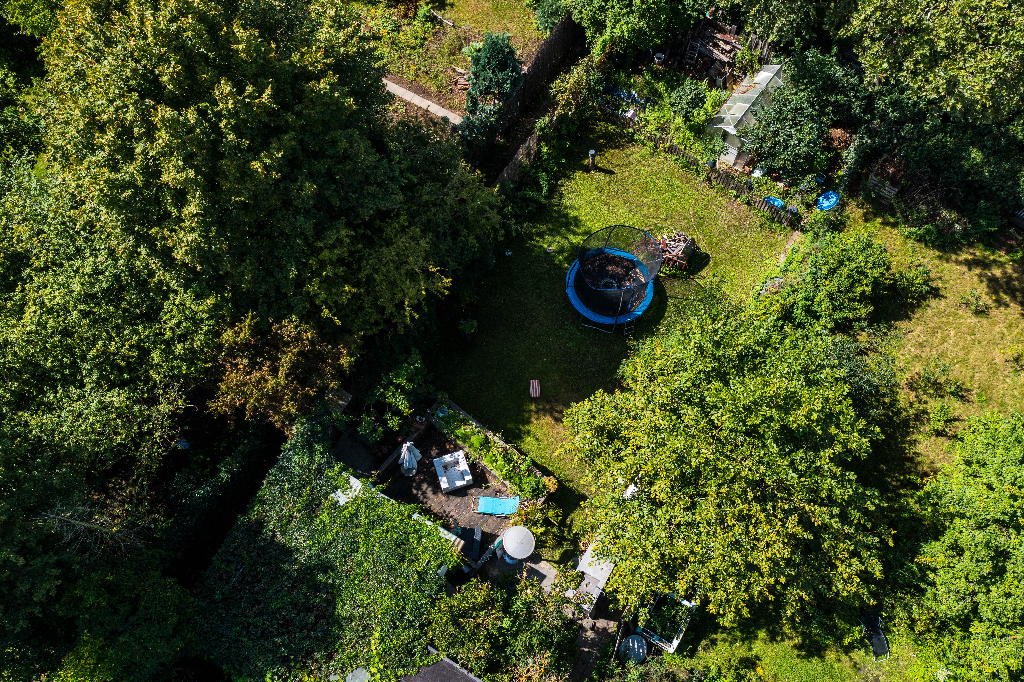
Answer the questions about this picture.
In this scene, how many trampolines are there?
one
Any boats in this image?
No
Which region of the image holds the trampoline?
center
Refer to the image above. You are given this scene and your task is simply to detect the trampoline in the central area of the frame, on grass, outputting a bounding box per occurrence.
[562,224,662,340]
